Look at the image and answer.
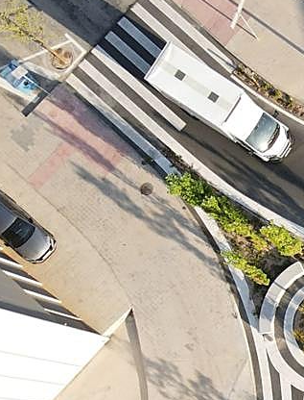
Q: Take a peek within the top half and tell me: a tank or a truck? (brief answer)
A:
truck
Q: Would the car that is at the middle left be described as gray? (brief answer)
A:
Yes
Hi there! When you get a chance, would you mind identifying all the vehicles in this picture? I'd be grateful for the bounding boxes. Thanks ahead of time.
[146,47,295,171]
[0,190,57,261]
